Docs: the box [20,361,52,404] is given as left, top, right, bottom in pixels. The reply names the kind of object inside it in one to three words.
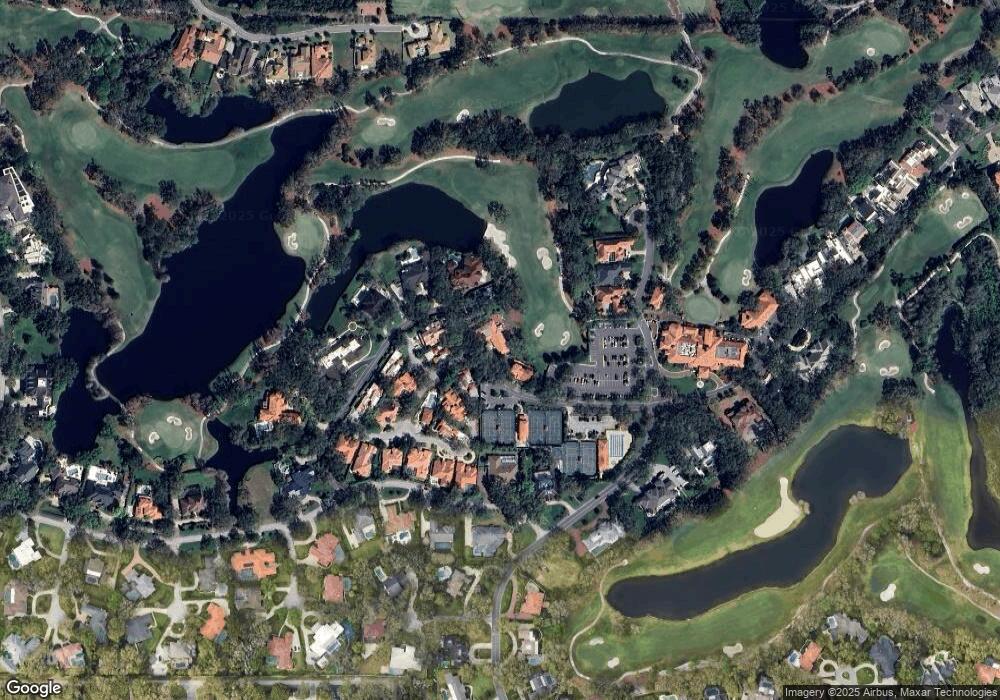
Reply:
house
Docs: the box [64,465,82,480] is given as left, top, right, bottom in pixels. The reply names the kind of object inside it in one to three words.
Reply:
swimming pool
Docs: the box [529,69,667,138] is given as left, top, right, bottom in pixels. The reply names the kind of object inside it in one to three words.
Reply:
pond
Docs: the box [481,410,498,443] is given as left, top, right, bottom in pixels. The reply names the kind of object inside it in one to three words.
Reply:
tennis court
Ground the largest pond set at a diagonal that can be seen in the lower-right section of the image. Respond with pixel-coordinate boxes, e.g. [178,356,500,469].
[607,424,911,620]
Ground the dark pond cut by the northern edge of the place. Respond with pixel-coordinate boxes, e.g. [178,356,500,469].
[760,0,808,68]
